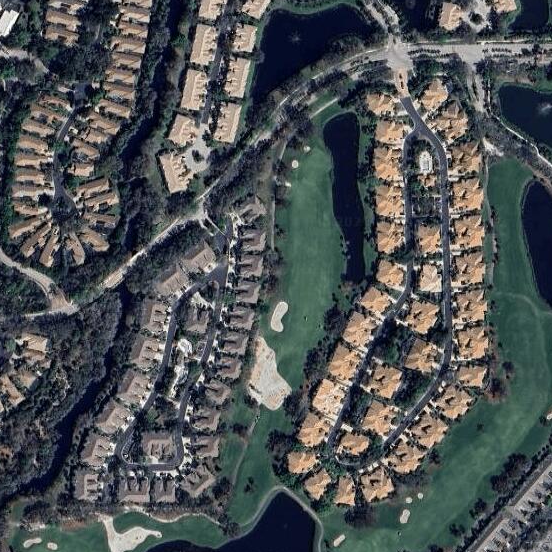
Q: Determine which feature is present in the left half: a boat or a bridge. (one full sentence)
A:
Visible in the left half is a bridge.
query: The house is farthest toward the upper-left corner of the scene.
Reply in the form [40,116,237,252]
[0,10,19,40]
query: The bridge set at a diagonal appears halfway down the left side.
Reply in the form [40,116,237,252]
[97,253,140,293]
